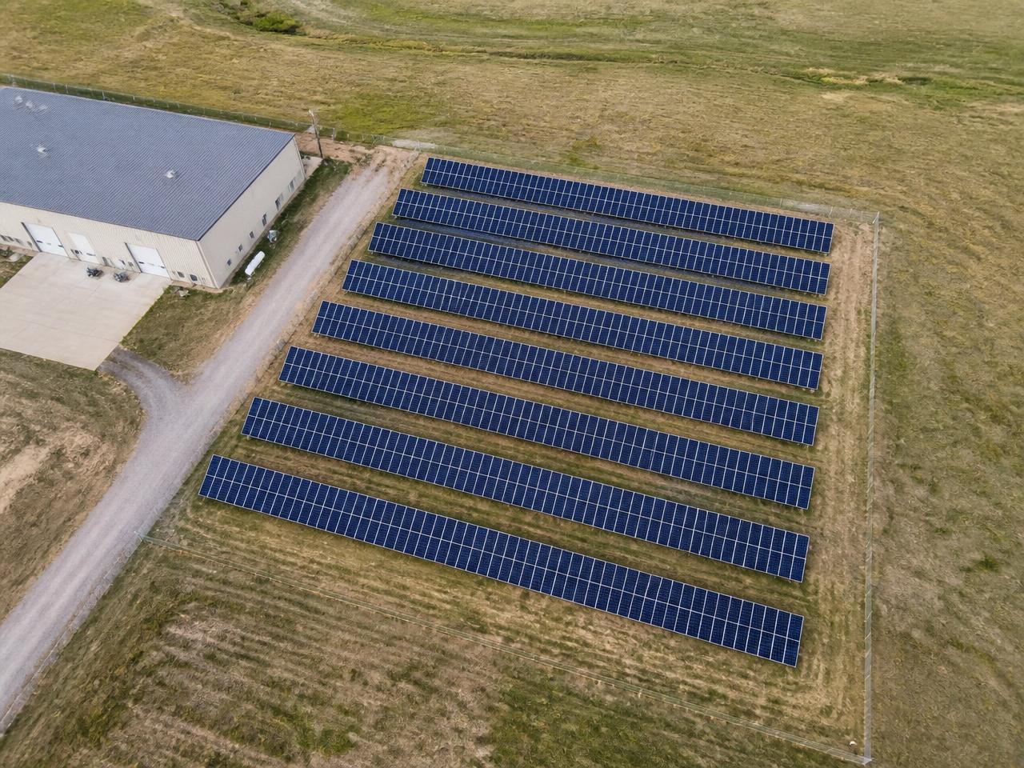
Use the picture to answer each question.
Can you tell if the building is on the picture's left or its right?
left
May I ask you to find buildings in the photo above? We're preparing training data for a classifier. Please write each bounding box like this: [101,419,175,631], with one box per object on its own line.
[0,84,307,289]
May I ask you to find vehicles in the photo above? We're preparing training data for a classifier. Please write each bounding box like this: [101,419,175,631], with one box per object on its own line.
[111,269,128,283]
[84,264,103,277]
